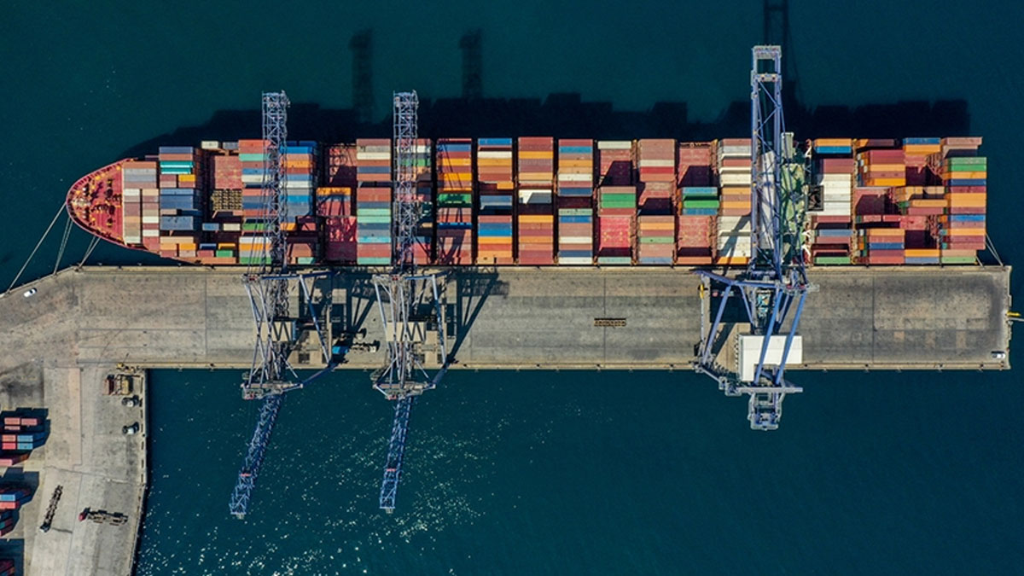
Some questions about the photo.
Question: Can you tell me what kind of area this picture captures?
port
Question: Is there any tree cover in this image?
No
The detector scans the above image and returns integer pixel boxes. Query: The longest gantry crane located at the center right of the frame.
[687,45,822,431]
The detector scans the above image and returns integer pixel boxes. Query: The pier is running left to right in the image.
[79,264,1012,371]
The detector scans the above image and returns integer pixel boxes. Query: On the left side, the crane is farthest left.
[227,90,342,516]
